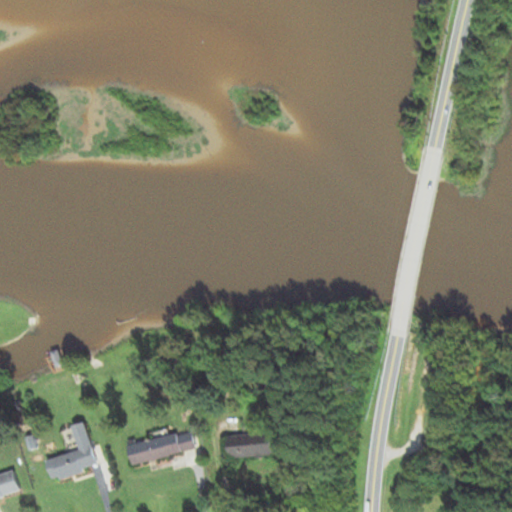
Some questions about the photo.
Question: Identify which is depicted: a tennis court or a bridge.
bridge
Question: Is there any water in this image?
Yes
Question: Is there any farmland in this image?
No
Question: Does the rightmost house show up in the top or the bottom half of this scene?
bottom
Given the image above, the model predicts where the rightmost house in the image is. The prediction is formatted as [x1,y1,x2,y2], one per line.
[224,436,271,460]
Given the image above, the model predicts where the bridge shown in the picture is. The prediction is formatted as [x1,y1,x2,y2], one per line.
[390,146,444,336]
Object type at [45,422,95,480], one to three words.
house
